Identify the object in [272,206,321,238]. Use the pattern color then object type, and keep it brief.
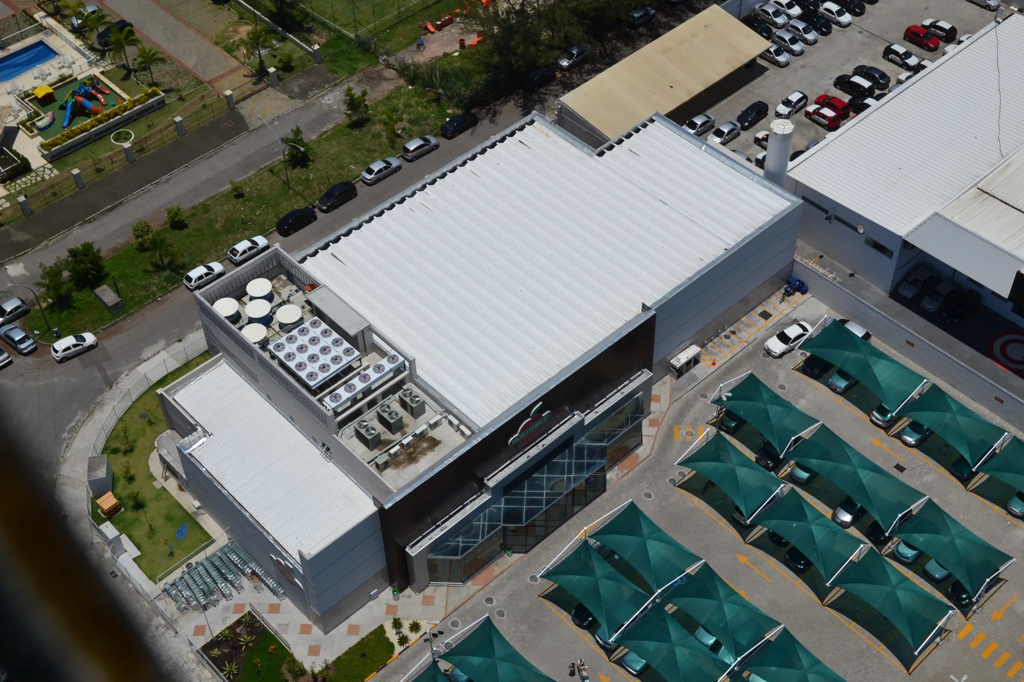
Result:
black car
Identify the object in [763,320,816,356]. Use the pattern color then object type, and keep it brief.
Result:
white car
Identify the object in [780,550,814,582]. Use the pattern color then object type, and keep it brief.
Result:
black car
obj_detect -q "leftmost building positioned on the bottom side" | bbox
[86,454,112,496]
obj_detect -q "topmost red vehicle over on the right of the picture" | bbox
[902,25,942,52]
